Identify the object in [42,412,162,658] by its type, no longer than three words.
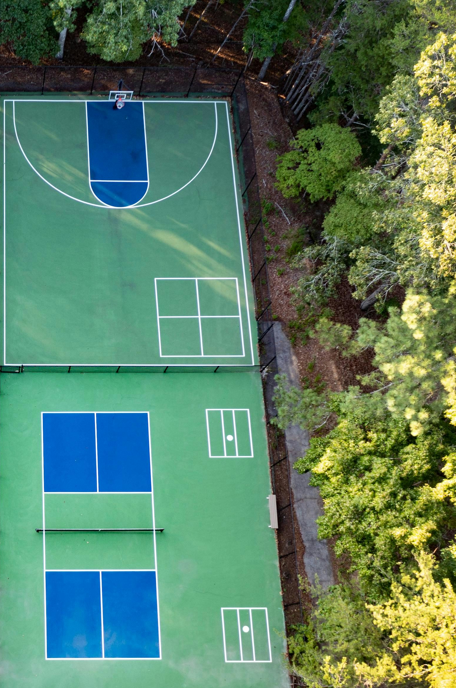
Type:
sports court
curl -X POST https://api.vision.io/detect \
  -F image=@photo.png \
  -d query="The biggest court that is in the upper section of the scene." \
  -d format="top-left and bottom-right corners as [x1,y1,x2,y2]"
[3,100,254,365]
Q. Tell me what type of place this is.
sports ground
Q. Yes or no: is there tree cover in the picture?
Yes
